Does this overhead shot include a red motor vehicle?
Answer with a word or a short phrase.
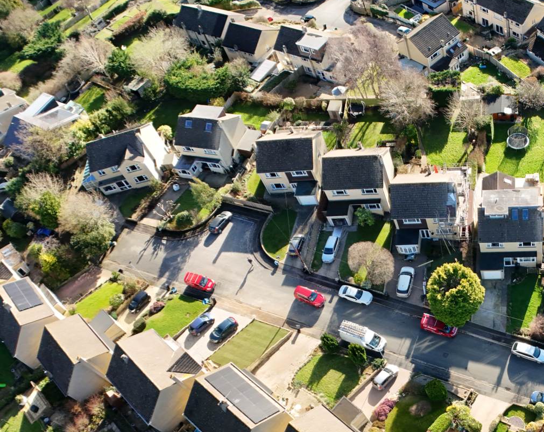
Yes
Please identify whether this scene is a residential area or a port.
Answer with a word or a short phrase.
residential area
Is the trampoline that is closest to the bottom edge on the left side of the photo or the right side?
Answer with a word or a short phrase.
right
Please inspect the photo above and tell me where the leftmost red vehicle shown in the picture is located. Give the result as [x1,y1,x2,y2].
[180,268,218,293]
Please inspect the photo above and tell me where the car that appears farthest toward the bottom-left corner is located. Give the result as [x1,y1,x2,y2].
[128,292,151,314]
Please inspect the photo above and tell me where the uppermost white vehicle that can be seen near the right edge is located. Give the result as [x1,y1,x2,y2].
[510,340,544,364]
